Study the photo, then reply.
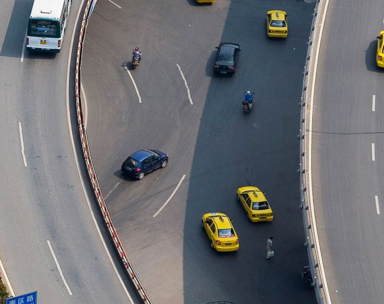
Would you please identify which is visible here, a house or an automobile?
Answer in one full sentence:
Of the two, only an automobile appears.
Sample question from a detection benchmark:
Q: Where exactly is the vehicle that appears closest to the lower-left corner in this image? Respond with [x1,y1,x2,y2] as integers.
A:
[118,146,170,179]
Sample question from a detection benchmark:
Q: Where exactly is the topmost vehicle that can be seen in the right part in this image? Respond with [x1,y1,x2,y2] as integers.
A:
[263,3,290,33]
